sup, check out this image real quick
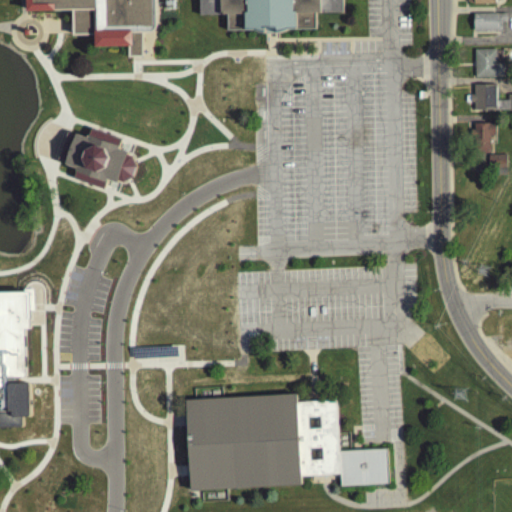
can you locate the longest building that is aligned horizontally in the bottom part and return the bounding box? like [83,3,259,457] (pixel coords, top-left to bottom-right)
[186,394,390,488]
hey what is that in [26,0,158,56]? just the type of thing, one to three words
building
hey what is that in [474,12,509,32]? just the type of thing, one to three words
house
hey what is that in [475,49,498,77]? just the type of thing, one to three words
house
